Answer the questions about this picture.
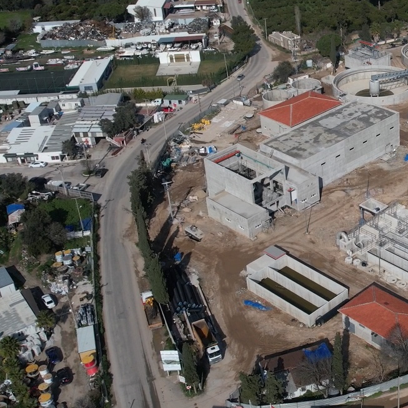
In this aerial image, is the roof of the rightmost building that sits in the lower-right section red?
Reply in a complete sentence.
Yes, the roof of the rightmost building that sits in the lower-right section is red.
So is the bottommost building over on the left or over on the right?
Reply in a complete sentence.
The bottommost building appears in the right half of the scene.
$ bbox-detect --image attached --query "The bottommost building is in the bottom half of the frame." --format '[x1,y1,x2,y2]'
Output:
[259,333,329,400]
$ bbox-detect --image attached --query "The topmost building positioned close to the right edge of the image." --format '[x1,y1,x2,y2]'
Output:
[345,38,393,74]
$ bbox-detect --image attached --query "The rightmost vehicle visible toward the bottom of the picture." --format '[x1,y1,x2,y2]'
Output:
[188,308,218,358]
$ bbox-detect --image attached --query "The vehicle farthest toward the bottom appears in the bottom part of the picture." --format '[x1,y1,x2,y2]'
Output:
[56,365,72,385]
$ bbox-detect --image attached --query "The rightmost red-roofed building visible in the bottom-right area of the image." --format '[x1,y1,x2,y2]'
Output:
[333,279,408,359]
